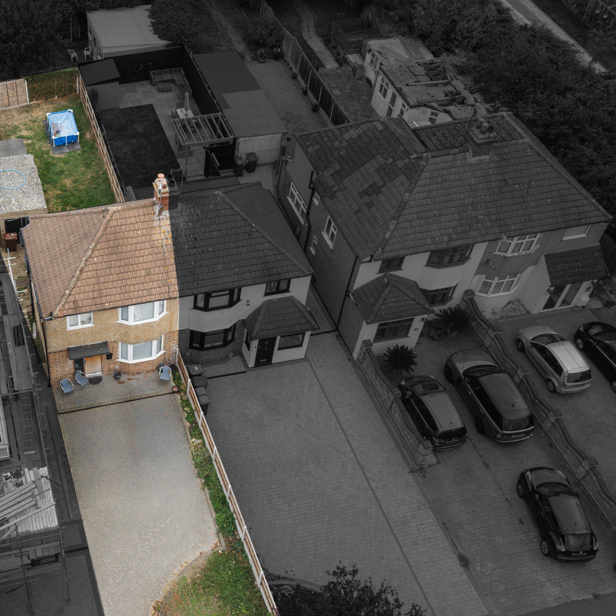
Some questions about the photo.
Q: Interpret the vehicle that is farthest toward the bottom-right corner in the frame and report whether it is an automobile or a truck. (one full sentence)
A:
Specifically, the vehicle that is farthest toward the bottom-right corner is an automobile.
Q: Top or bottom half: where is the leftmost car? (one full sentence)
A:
The bottom half of the photo is where the leftmost car is.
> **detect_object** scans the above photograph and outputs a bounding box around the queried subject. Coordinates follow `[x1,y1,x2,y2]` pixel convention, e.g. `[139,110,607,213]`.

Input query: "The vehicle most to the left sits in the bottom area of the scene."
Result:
[400,363,472,446]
